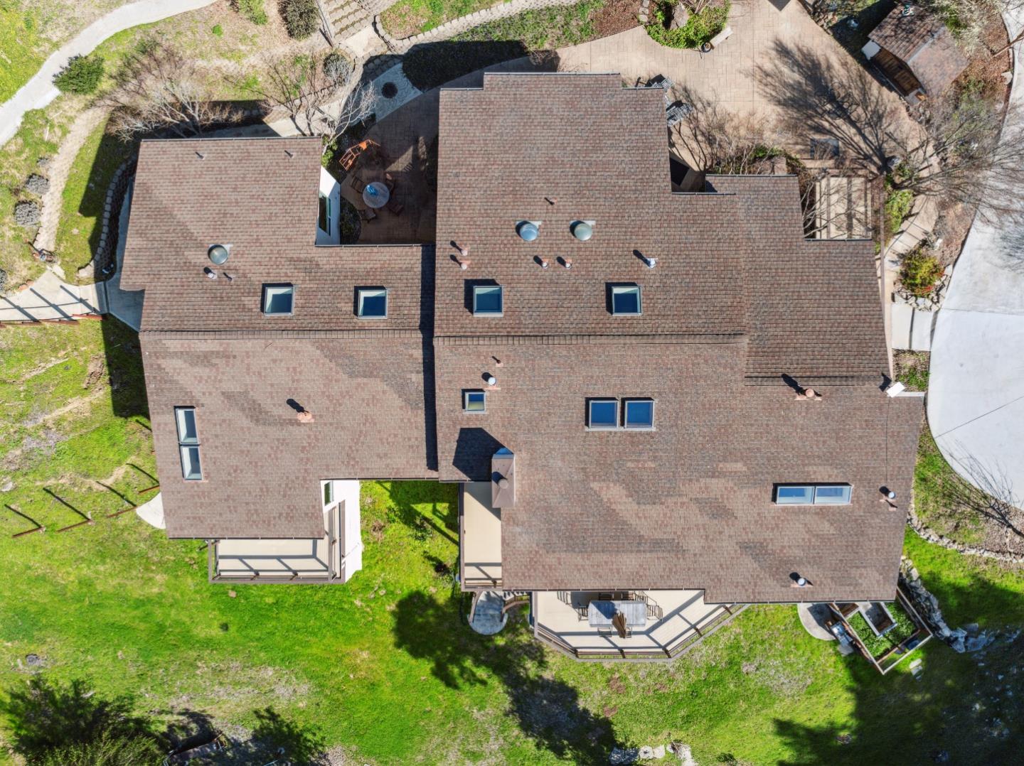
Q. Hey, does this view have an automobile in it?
No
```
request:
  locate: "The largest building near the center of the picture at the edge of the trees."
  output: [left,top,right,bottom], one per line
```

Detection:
[119,69,927,607]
